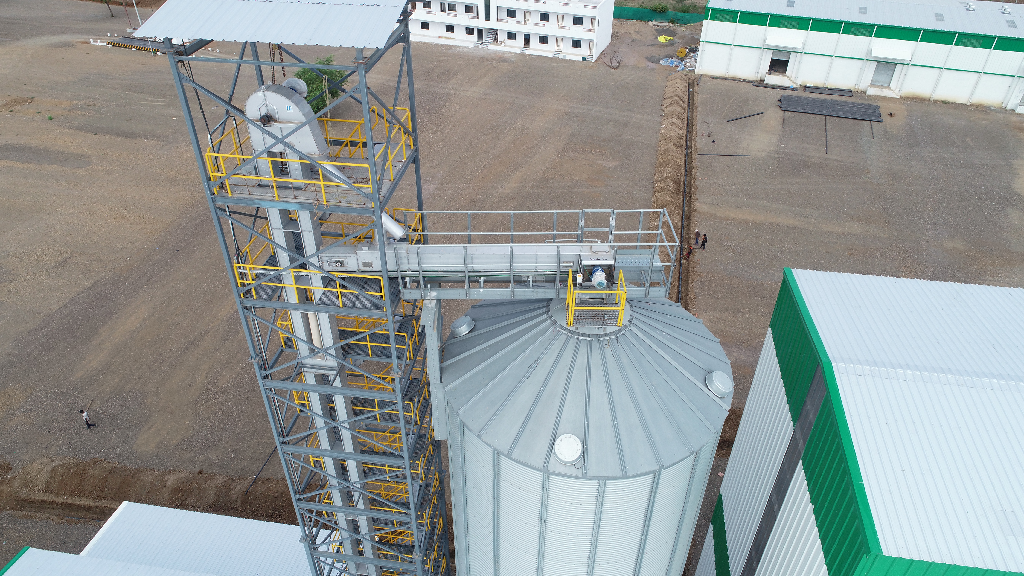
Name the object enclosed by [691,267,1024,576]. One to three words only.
building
